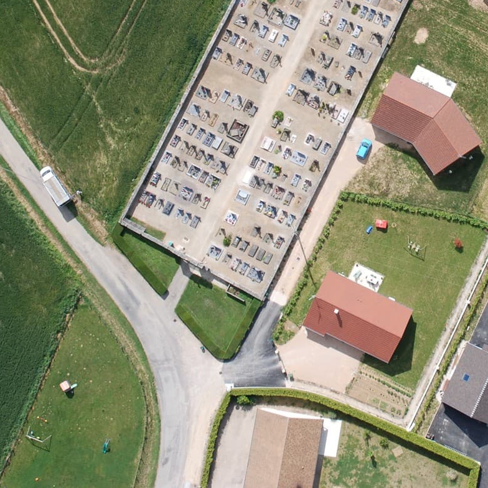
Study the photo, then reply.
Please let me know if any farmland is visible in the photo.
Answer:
Yes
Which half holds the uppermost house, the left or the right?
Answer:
right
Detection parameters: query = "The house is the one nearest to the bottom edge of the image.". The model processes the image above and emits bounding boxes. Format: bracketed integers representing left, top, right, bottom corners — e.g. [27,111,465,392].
[244,407,325,488]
